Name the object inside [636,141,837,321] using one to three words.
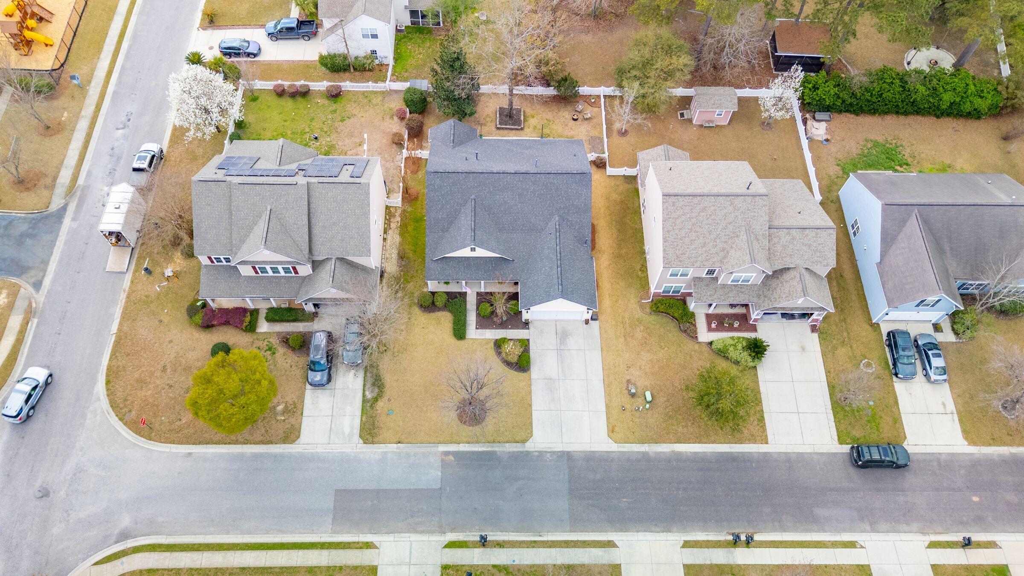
house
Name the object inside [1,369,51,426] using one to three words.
car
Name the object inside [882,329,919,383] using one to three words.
car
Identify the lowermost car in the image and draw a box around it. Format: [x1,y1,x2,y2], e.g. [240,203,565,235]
[846,442,911,472]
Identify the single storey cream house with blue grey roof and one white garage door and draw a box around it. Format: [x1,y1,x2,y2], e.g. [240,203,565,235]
[424,117,599,322]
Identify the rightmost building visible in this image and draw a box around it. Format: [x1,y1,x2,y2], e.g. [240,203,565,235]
[835,172,1024,323]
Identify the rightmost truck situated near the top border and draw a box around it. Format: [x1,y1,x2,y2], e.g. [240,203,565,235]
[265,16,321,40]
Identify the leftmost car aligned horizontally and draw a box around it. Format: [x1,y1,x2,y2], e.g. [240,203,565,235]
[219,36,264,57]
